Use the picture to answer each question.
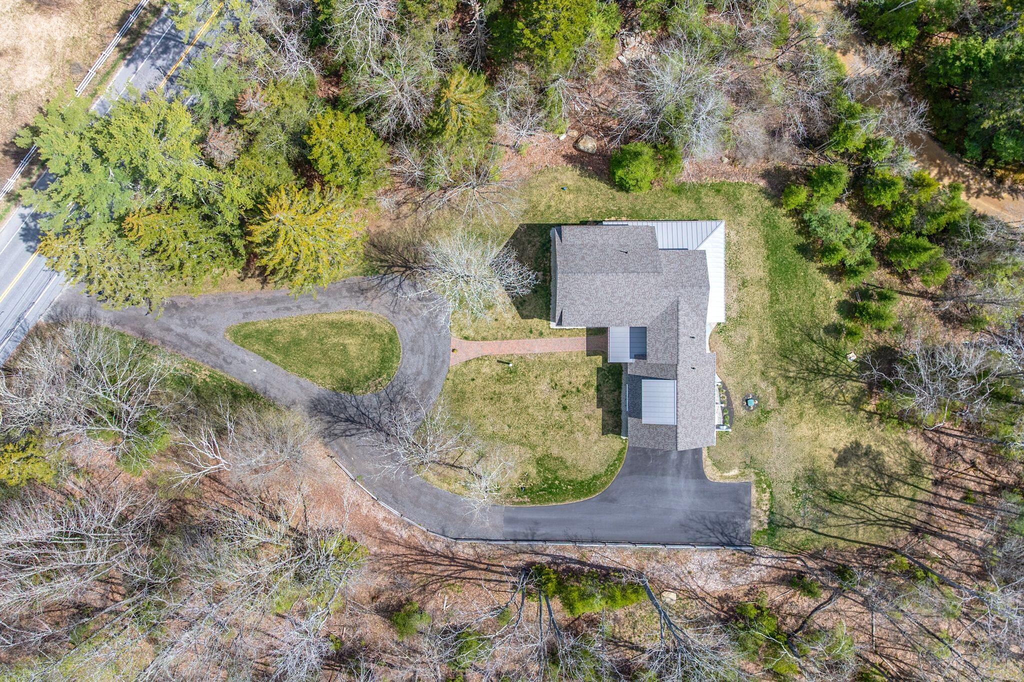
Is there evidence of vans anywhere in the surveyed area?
No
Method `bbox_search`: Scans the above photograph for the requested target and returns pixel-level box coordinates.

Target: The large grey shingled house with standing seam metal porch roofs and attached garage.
[554,220,726,451]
